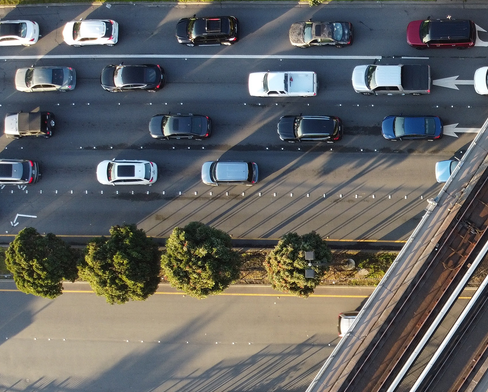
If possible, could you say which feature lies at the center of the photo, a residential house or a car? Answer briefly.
car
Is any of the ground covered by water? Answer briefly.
No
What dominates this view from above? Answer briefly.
paved ground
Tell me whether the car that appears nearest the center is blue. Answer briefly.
Yes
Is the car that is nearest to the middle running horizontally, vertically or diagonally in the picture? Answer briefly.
horizontally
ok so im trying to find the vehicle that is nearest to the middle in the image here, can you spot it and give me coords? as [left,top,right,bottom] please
[202,157,260,187]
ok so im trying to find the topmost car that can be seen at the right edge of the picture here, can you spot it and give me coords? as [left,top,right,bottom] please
[407,17,477,49]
